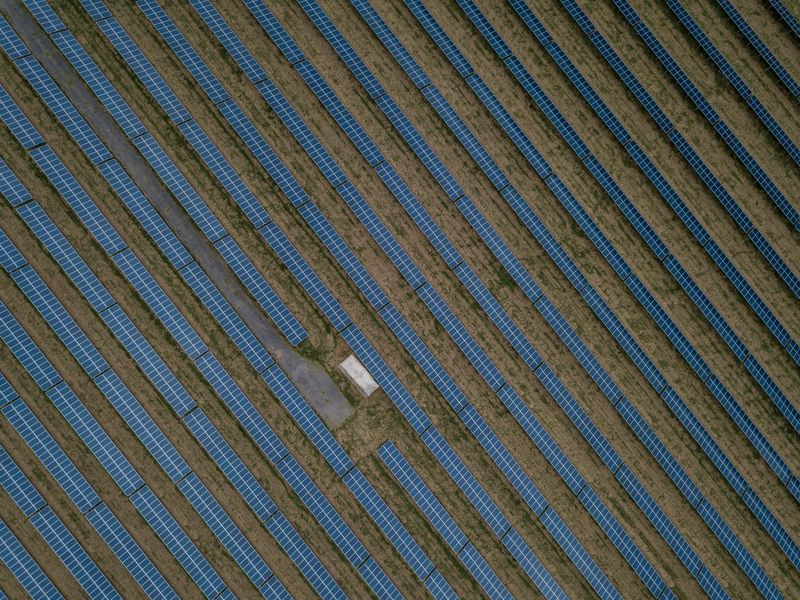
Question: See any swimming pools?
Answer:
No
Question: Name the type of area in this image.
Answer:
solar farm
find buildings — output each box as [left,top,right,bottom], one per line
[337,353,378,399]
